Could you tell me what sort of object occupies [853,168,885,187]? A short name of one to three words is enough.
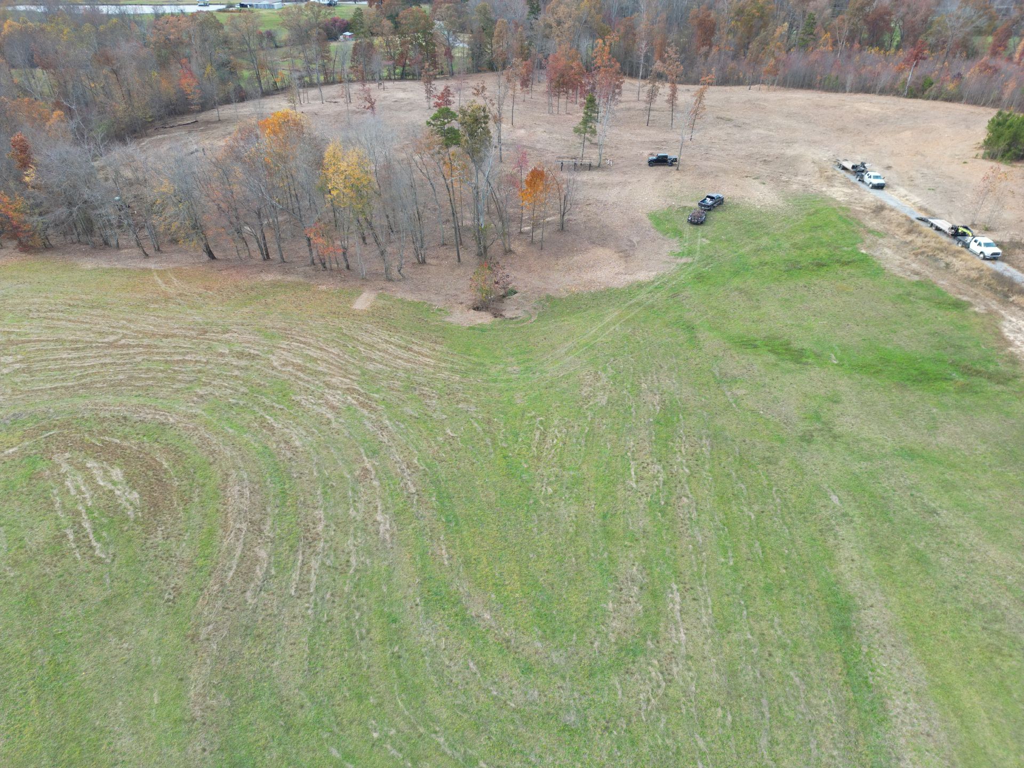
vehicle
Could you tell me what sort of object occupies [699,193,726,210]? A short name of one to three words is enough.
vehicle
